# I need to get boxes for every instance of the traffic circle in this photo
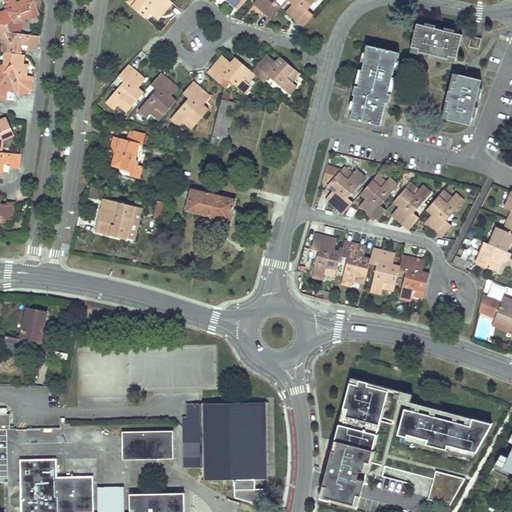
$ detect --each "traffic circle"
[212,264,337,392]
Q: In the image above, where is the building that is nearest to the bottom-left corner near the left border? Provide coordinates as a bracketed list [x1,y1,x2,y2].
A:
[18,459,57,512]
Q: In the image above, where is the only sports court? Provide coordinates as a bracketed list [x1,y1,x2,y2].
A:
[77,345,217,408]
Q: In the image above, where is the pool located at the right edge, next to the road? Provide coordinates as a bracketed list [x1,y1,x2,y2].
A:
[475,312,492,341]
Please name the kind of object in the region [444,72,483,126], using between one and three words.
building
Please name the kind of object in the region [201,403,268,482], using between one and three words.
building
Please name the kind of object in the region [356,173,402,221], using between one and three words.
house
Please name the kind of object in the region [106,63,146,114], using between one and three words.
house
